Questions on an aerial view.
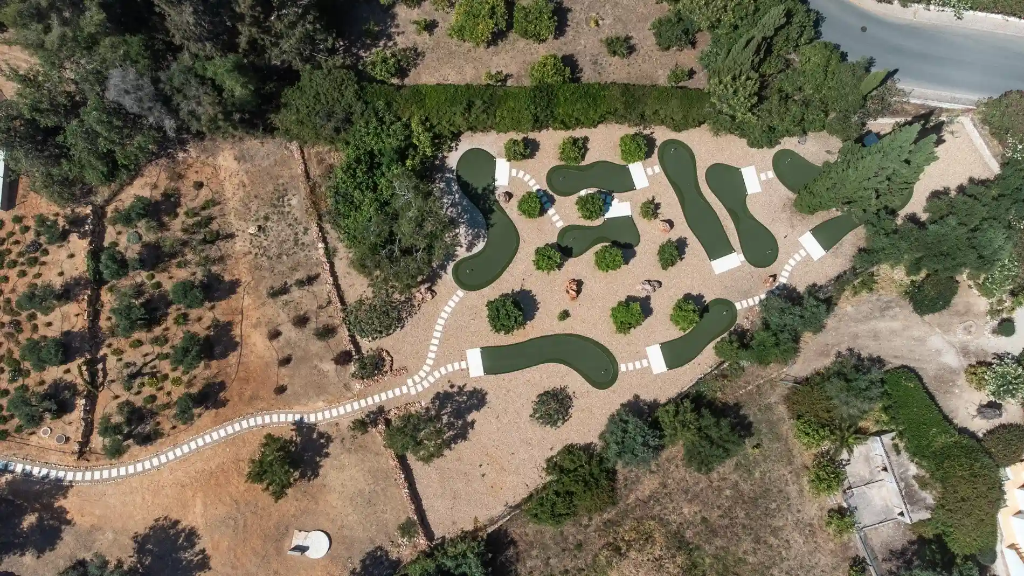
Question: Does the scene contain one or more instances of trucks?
No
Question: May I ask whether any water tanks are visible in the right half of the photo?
No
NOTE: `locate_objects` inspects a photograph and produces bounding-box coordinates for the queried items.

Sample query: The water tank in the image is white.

[287,529,331,558]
